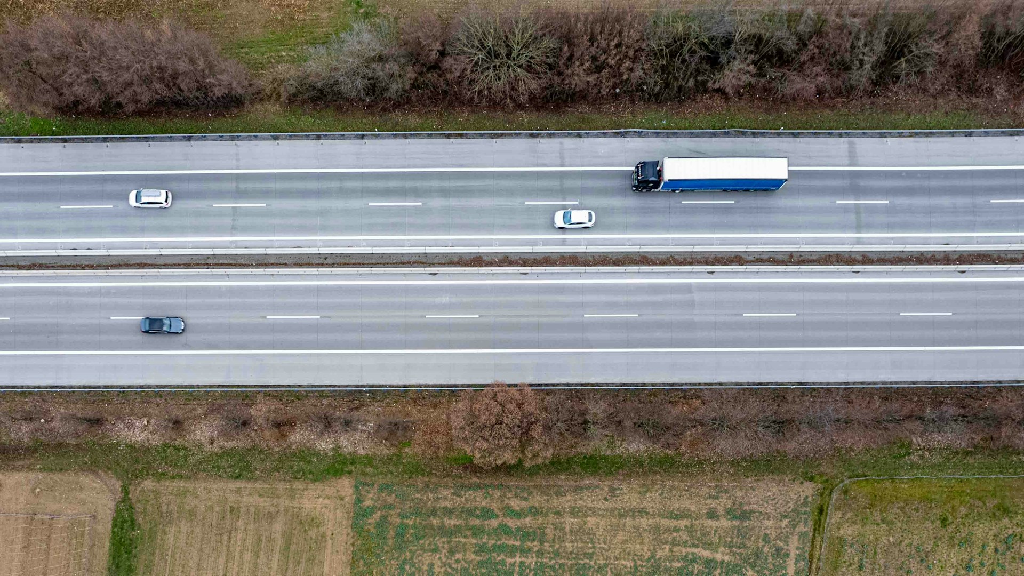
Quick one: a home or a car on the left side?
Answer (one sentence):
It is a car that can be seen on the left side.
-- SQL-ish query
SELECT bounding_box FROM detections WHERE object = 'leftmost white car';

[130,189,173,208]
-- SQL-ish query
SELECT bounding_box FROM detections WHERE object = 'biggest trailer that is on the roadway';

[658,158,789,190]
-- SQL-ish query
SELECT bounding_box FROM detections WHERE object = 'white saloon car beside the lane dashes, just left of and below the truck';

[554,210,595,228]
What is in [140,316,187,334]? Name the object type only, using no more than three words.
car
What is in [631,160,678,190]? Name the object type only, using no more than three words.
truck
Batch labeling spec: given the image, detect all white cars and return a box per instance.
[130,189,173,208]
[554,210,595,228]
